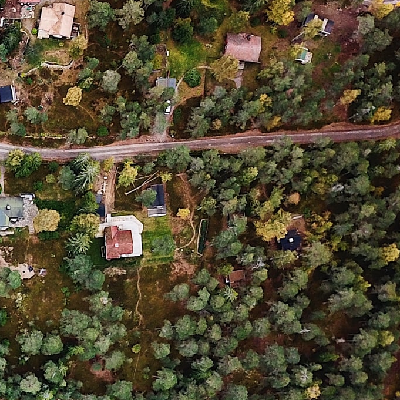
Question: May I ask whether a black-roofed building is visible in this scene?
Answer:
Yes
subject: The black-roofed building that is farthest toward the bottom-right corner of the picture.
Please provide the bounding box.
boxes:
[279,230,301,249]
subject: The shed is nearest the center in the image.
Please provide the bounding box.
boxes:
[147,184,165,216]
